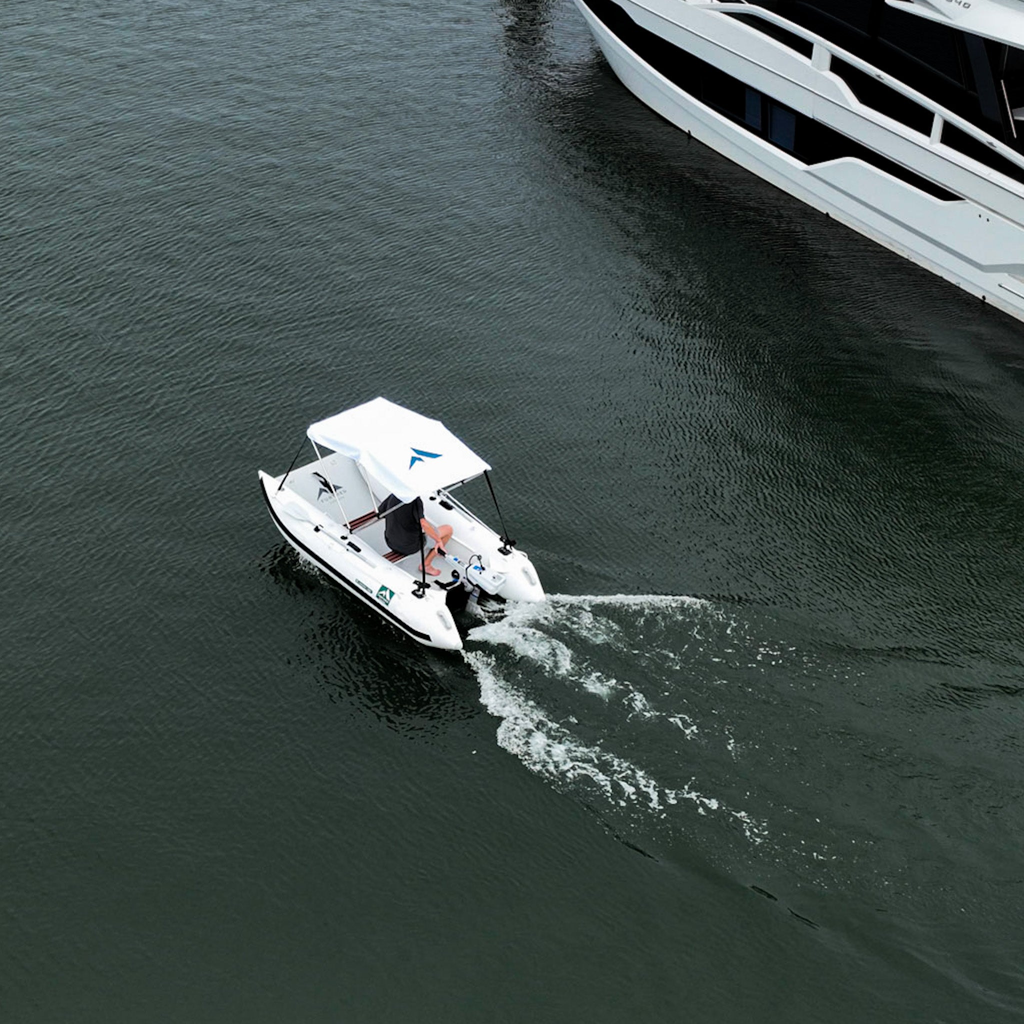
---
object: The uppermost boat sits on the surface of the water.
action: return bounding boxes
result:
[574,0,1024,323]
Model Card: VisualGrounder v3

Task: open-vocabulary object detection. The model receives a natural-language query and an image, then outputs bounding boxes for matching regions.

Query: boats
[257,399,547,651]
[574,0,1024,323]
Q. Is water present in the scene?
Yes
